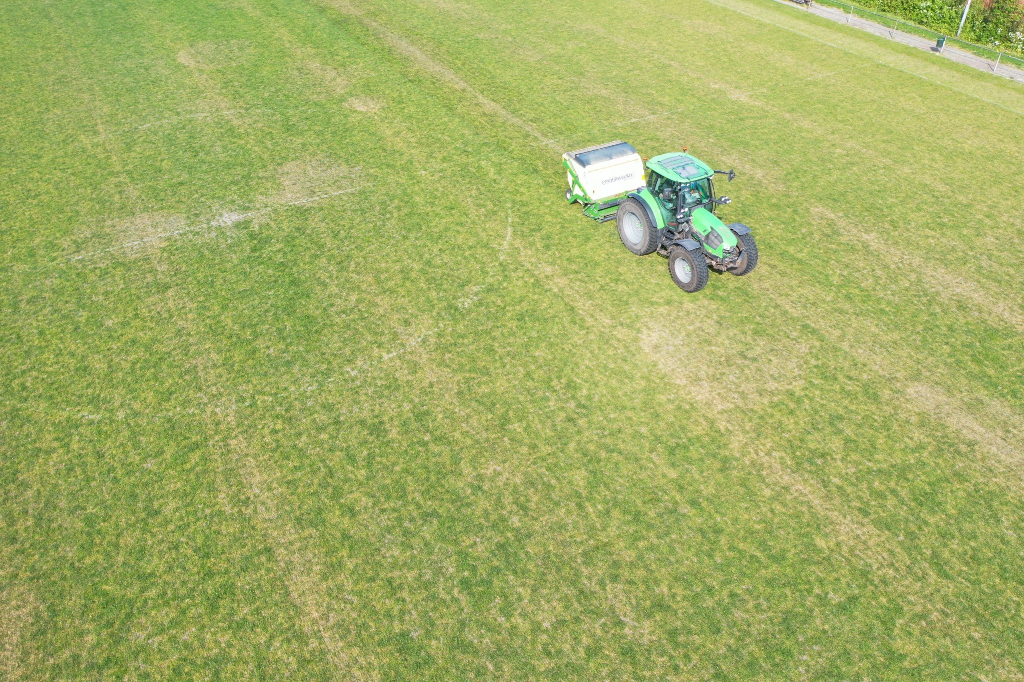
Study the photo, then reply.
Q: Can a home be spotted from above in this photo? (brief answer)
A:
No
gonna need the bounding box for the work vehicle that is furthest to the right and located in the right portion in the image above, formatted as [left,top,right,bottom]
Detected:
[616,146,760,292]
